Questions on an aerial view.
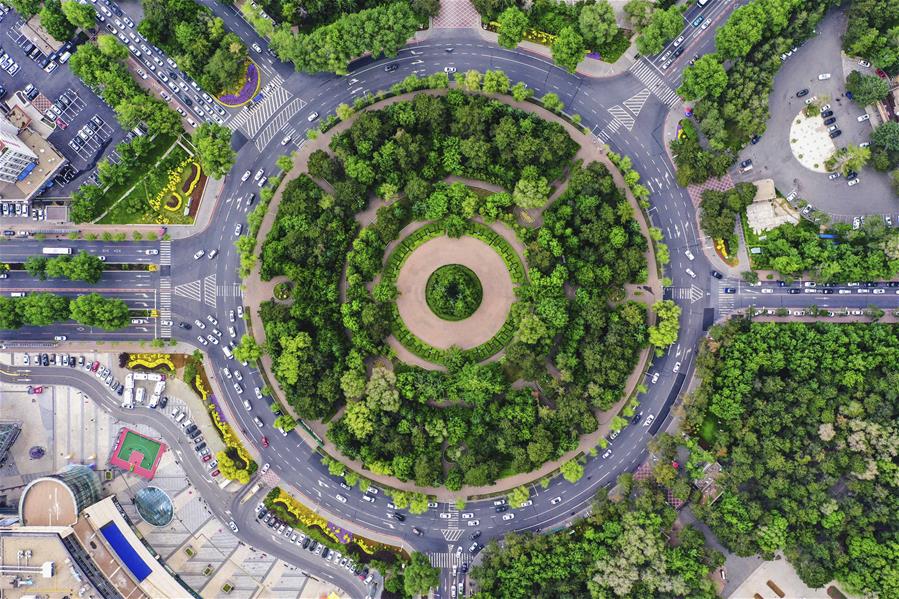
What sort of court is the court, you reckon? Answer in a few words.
basketball court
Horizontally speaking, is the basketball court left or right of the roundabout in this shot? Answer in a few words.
to the left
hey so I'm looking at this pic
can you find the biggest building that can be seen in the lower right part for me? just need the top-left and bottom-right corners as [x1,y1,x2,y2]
[696,463,722,503]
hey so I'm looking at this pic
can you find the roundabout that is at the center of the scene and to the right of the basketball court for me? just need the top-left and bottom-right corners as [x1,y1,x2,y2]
[200,38,708,546]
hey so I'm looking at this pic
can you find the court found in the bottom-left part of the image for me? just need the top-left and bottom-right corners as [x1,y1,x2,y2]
[107,428,168,481]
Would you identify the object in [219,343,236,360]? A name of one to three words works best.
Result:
vehicle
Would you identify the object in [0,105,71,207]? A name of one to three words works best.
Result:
building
